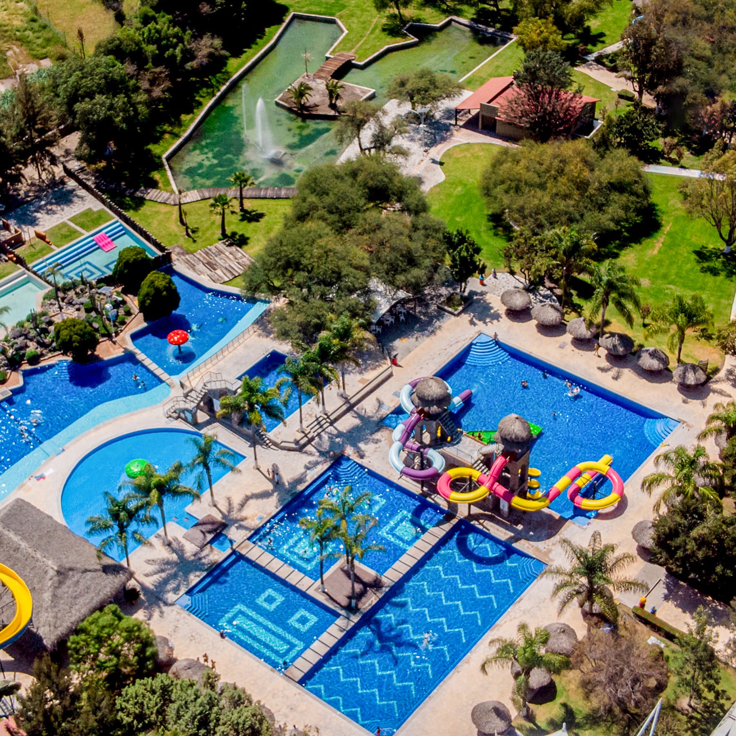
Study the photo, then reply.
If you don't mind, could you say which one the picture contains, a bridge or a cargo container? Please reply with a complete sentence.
Visible in the photo is a bridge.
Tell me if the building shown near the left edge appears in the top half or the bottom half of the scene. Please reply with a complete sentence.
Seen from above, the building shown near the left edge lies in the bottom half of the view.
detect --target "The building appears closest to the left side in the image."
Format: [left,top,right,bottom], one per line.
[0,497,133,658]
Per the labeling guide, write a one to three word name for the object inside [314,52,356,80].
bridge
